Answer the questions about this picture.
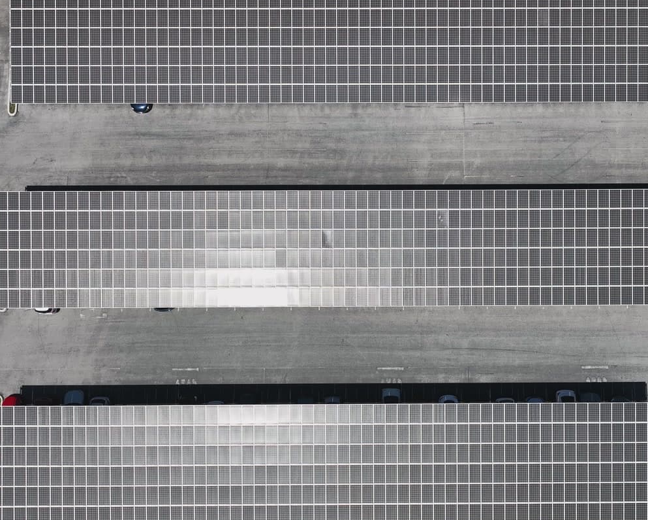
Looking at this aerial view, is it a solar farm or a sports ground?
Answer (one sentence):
It's a solar farm.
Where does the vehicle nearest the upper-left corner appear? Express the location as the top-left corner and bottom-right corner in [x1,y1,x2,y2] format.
[131,102,153,114]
